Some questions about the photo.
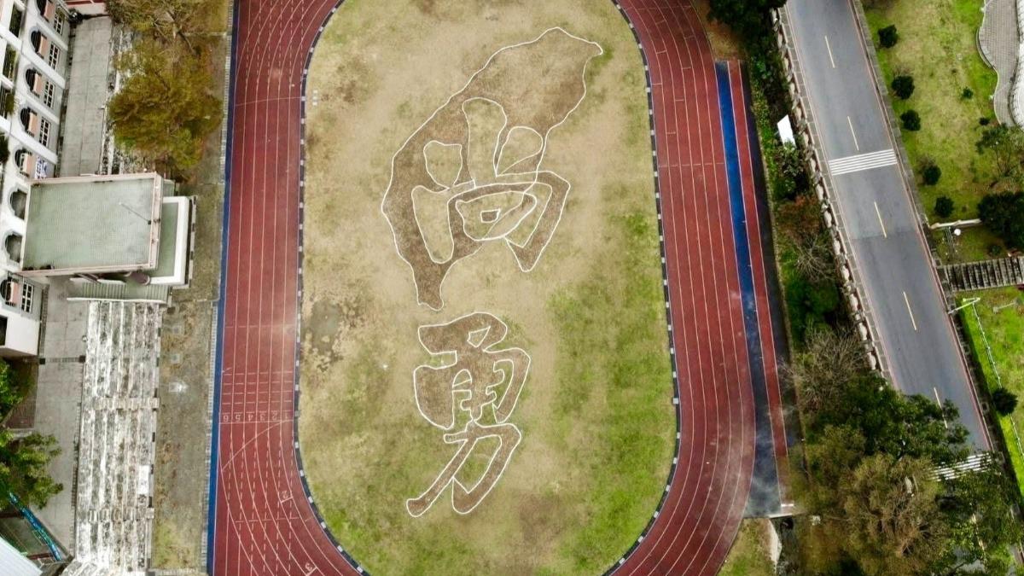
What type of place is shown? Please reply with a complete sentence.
It's a sports ground.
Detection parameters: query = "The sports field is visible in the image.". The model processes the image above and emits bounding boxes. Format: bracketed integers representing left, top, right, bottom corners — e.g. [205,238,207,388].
[299,0,675,576]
